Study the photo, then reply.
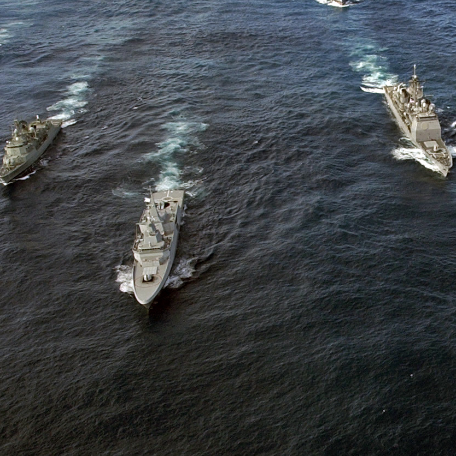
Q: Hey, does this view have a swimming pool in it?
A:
No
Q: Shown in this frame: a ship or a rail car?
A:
ship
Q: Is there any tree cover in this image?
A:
No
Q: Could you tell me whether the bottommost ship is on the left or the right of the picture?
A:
left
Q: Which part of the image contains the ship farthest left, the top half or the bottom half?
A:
top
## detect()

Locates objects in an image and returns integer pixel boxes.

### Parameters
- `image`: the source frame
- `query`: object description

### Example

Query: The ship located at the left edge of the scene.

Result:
[0,117,66,185]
